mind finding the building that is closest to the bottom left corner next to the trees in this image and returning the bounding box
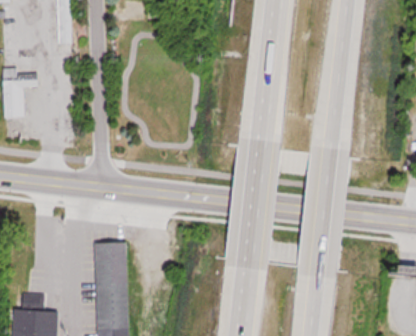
[11,292,56,336]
